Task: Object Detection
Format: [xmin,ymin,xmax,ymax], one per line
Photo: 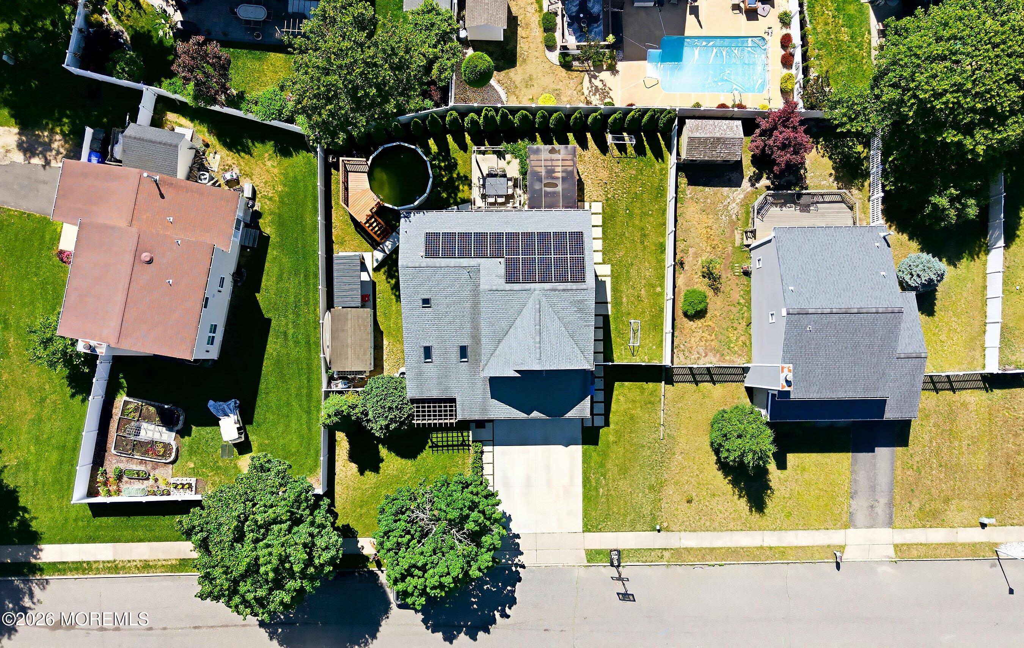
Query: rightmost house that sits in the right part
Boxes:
[743,224,930,422]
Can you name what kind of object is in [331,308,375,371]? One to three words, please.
shed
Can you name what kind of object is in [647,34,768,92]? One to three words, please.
swimming pool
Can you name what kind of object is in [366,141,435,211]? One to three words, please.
swimming pool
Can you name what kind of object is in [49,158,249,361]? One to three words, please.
house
